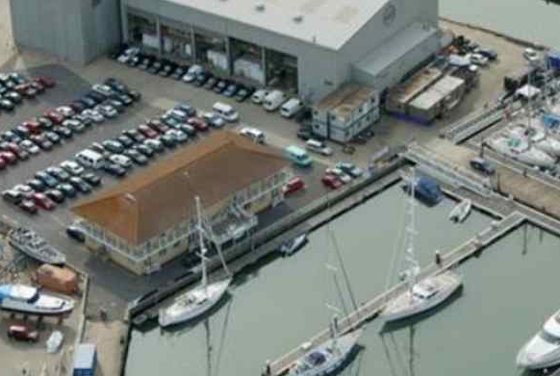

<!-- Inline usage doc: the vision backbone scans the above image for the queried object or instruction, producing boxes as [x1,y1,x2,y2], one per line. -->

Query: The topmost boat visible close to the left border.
[1,228,67,266]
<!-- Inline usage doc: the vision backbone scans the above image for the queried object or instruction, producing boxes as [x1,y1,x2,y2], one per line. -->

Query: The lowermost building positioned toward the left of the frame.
[70,131,294,273]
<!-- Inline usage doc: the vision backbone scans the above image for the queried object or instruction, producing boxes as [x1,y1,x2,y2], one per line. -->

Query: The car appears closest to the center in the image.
[286,179,304,192]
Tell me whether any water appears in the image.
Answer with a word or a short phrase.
Yes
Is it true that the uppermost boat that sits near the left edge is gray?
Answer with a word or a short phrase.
Yes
